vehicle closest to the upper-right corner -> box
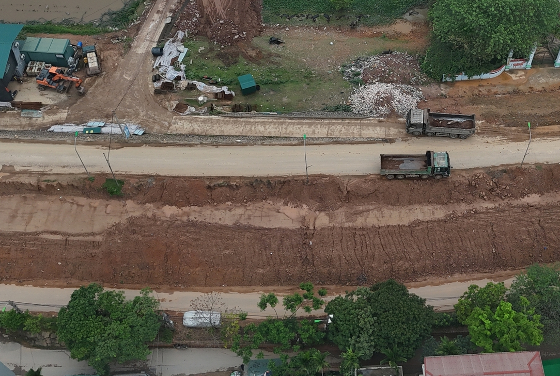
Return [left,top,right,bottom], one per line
[406,109,479,139]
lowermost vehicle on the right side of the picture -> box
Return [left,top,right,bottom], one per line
[376,151,453,179]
